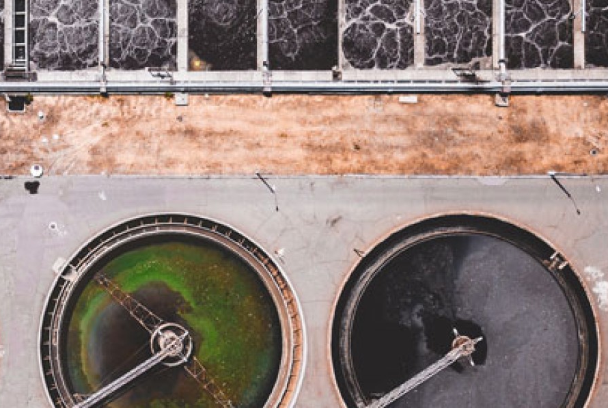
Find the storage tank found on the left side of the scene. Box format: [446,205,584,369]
[39,214,306,408]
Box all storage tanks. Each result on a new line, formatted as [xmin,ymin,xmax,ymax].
[39,214,306,408]
[331,213,599,408]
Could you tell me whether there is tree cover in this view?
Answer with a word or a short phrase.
No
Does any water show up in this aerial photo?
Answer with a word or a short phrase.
Yes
